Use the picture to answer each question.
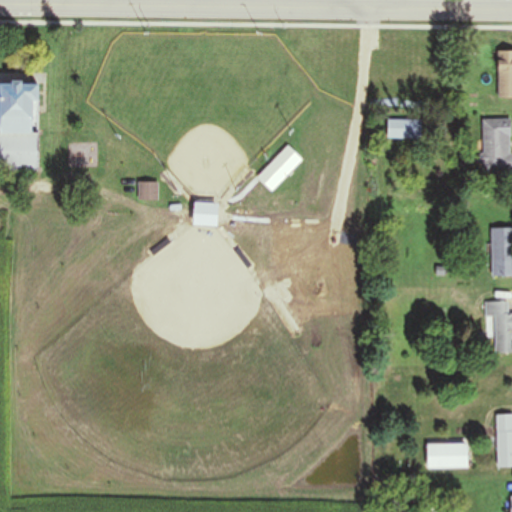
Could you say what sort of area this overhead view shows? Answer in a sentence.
The area seen from above is a sports ground.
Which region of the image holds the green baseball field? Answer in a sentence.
Look in the top portion of the view to spot the green baseball field.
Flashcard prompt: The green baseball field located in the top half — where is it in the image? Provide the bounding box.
[89,34,351,227]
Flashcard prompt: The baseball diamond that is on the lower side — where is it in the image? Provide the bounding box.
[37,224,330,480]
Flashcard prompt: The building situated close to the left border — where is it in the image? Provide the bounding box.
[0,80,40,169]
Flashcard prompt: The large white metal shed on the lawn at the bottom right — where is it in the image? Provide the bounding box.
[427,442,470,470]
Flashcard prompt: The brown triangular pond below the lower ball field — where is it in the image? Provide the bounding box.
[306,434,359,486]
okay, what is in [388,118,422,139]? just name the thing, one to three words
shed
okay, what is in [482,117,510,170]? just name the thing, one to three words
house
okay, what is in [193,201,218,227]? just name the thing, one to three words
building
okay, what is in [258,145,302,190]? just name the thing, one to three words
building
